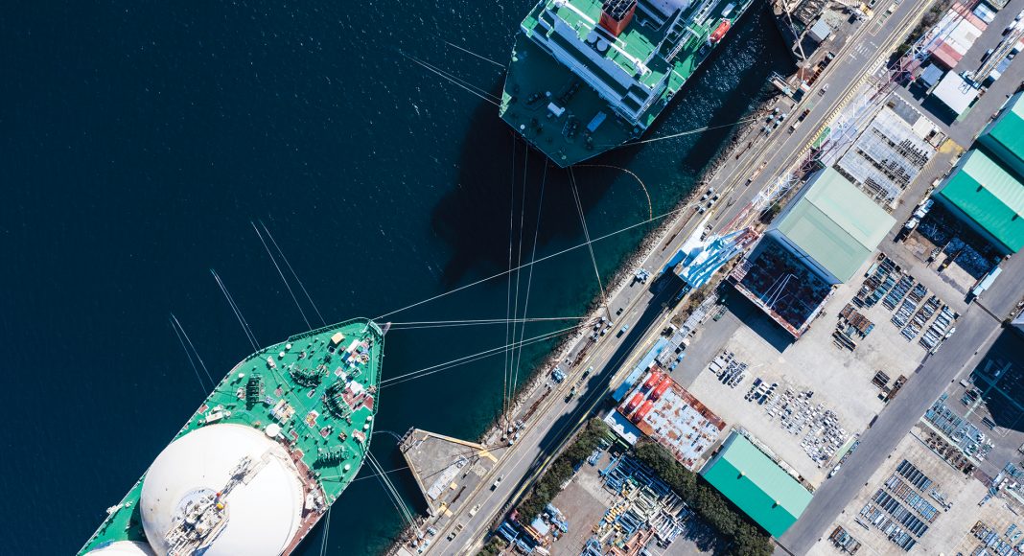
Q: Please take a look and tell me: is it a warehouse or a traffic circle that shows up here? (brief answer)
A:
warehouse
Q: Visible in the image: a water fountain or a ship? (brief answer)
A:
ship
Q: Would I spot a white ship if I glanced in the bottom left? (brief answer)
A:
Yes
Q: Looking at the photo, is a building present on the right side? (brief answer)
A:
Yes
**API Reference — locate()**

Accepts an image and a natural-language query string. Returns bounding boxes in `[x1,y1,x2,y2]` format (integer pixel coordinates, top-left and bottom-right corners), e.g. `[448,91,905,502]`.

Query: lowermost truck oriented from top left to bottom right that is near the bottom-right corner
[929,485,957,509]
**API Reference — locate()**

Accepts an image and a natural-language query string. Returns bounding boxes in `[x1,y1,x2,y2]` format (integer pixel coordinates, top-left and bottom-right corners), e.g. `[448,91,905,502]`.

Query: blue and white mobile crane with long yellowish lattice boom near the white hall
[964,13,1024,94]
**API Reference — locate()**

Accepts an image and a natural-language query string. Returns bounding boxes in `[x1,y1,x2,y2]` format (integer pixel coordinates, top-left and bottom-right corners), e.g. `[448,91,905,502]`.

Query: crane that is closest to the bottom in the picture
[654,211,763,297]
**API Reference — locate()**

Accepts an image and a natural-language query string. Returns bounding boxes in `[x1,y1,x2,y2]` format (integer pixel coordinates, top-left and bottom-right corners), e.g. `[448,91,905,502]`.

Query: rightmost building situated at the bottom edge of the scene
[702,431,813,539]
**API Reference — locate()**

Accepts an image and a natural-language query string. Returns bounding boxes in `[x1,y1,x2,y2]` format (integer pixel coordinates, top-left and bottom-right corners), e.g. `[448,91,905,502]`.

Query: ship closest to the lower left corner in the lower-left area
[73,319,389,556]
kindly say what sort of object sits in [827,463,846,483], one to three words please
vehicle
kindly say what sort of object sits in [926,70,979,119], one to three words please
shed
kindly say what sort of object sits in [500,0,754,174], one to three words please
ship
